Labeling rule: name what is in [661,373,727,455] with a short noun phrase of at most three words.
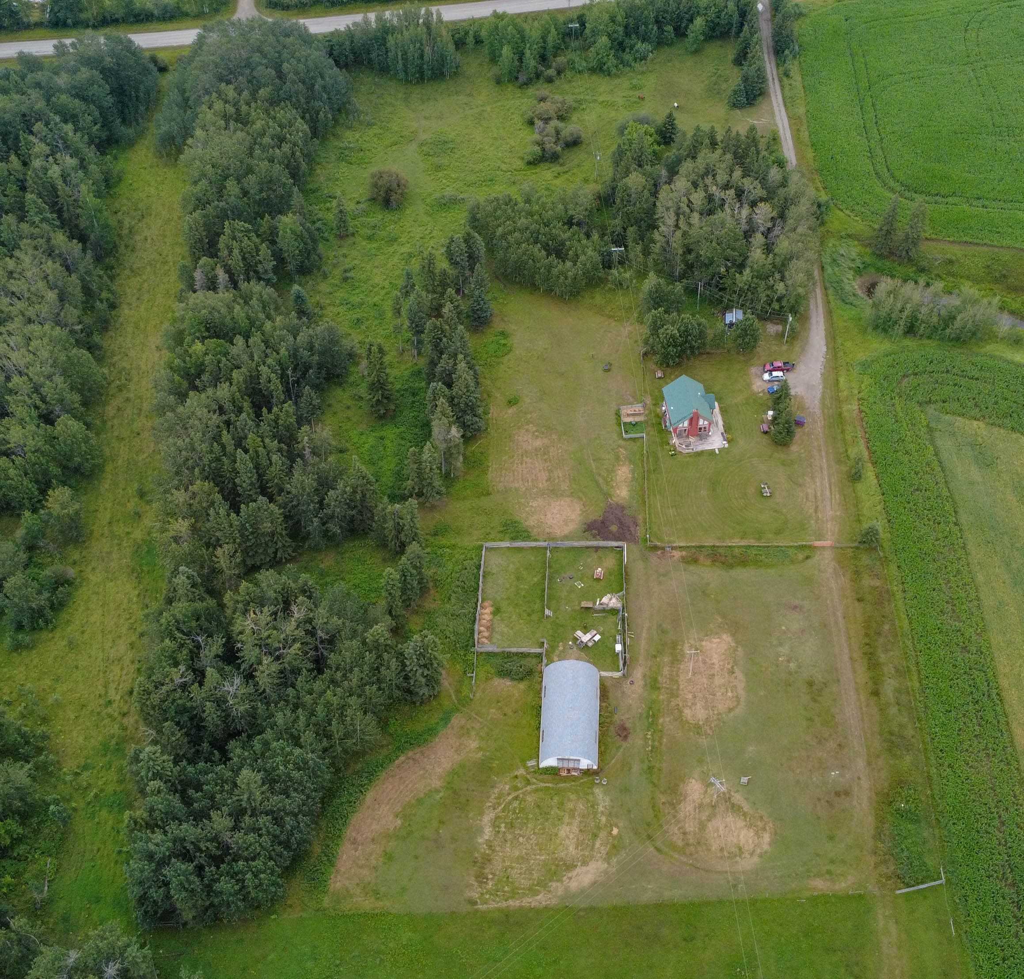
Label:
house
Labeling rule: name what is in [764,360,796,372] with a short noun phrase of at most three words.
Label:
vehicle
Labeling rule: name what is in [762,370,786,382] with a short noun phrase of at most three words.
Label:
vehicle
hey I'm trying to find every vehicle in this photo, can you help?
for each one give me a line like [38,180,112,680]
[764,360,796,372]
[765,381,788,394]
[762,370,786,382]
